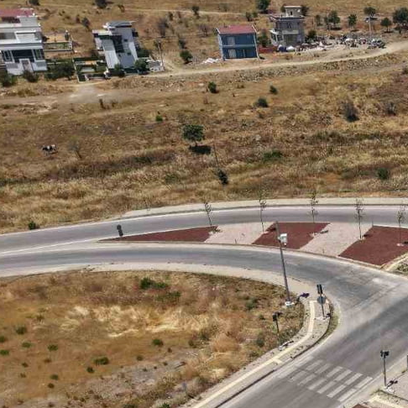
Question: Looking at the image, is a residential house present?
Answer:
Yes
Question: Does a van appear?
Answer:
No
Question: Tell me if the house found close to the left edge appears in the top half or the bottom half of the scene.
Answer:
top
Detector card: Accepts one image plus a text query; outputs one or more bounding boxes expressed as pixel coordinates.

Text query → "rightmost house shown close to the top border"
[264,2,304,48]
